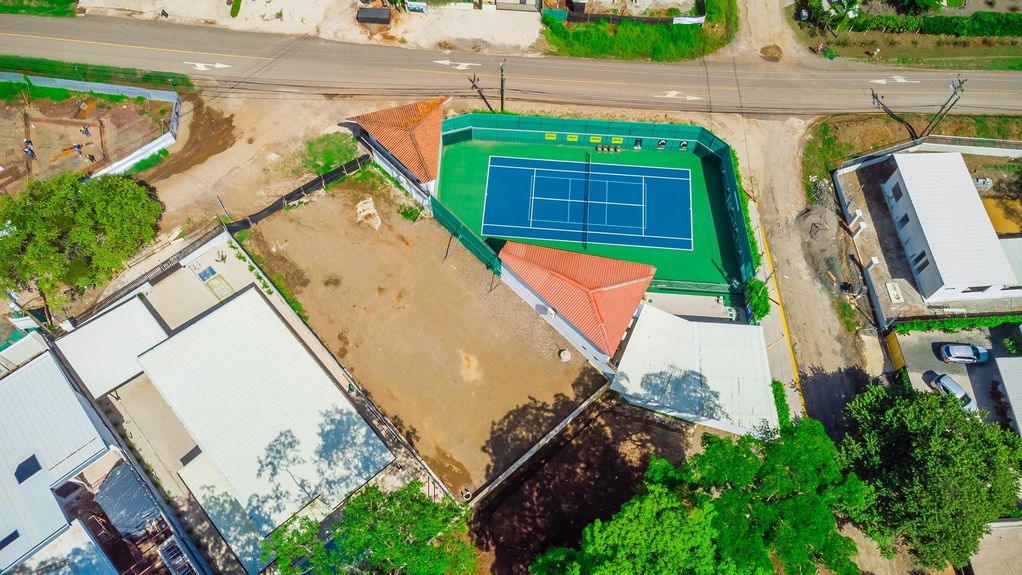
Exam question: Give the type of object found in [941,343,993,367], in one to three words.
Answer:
car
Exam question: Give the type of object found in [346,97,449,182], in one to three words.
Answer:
building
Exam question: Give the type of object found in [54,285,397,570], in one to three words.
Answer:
house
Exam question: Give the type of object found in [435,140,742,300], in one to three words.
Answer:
tennis court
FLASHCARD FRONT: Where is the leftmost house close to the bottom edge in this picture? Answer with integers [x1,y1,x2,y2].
[0,350,125,575]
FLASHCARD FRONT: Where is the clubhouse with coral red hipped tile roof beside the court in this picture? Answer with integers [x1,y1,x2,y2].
[498,241,658,372]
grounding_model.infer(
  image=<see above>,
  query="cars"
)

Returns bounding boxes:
[932,372,976,406]
[941,343,993,367]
